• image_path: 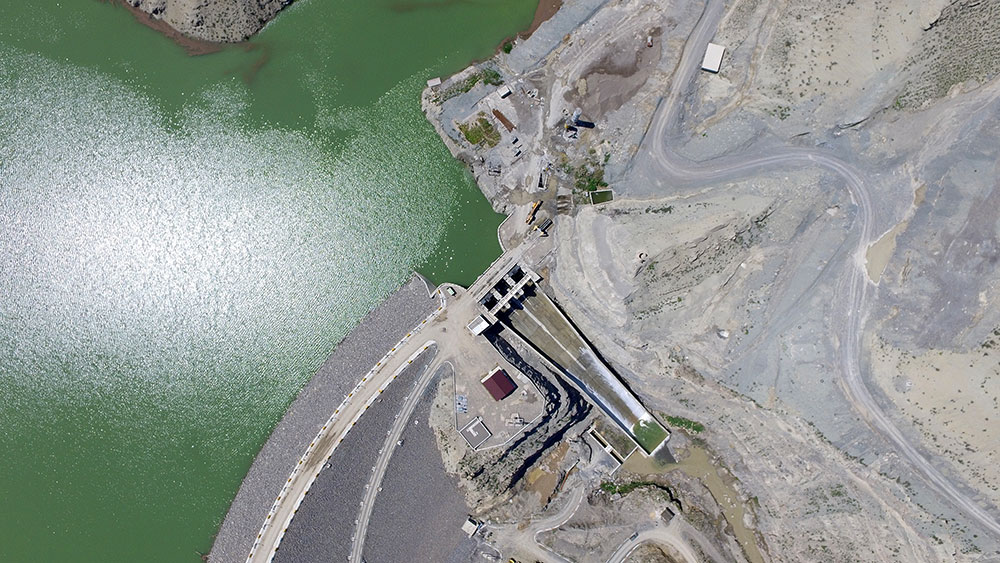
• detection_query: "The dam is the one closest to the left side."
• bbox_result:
[205,273,476,563]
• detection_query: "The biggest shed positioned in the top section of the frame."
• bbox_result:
[699,43,725,74]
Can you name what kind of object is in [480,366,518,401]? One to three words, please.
house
